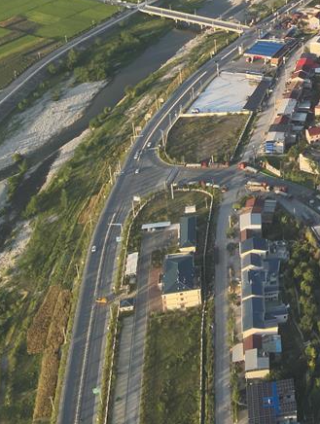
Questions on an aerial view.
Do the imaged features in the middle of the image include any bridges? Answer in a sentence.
No, in the middle of the image there is no bridge.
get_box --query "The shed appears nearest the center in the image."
[141,214,171,231]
